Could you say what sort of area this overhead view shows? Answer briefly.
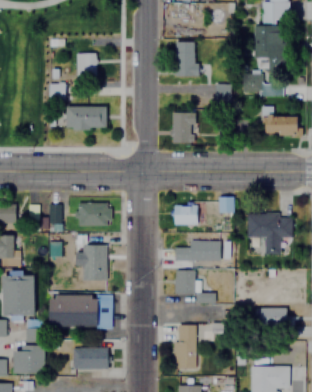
residential area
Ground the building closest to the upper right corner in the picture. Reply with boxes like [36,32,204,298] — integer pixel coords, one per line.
[263,0,291,23]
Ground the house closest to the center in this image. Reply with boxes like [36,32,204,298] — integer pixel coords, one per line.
[174,202,200,225]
